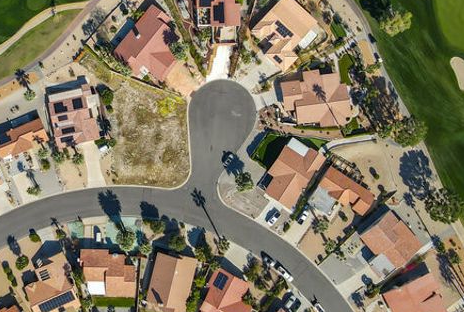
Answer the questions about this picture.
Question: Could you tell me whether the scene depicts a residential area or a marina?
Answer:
residential area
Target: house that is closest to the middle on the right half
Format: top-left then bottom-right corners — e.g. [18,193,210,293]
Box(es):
[255,137,324,213]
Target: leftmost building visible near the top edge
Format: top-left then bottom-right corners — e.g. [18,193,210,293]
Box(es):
[119,9,180,82]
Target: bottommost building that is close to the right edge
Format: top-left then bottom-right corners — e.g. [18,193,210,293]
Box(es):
[383,271,448,312]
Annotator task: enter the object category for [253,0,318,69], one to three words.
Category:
house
